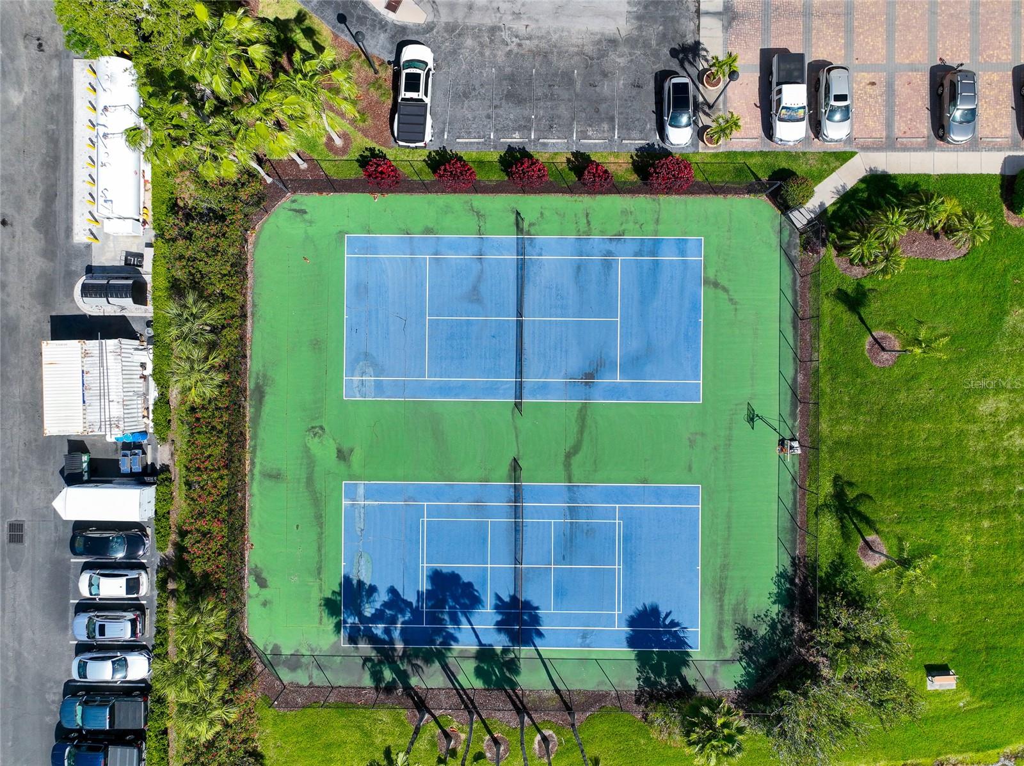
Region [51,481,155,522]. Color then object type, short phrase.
white trailer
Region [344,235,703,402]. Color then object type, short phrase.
blue tennis court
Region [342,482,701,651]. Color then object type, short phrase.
blue tennis court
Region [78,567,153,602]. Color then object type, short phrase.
white car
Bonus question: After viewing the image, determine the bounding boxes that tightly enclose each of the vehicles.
[53,731,150,766]
[72,648,153,685]
[78,567,153,602]
[769,53,810,147]
[939,70,981,145]
[816,65,855,143]
[70,528,151,562]
[61,689,153,731]
[661,75,697,148]
[73,607,148,644]
[395,44,435,148]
